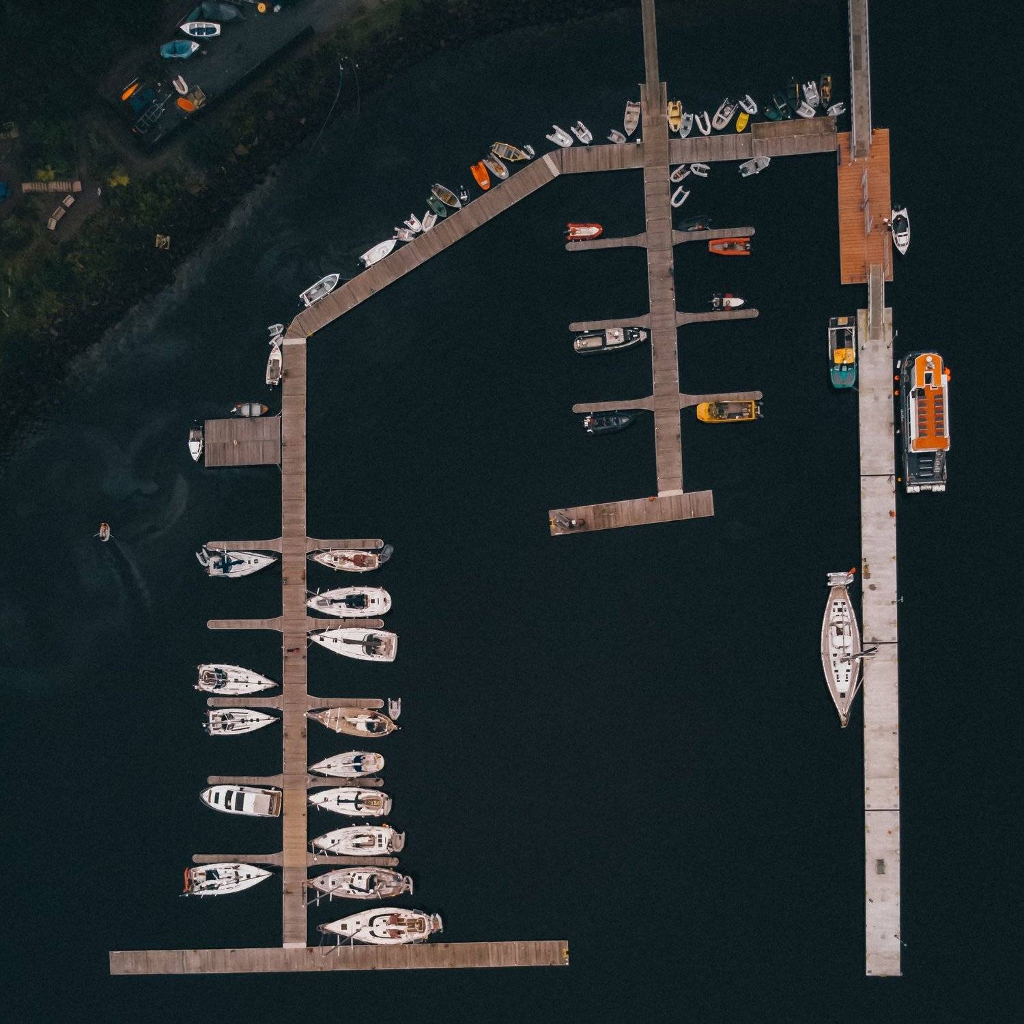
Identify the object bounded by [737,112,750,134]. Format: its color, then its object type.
yellow boat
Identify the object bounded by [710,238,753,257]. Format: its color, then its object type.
red boat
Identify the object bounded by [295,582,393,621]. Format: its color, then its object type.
white boat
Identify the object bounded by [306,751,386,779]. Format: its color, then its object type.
white boat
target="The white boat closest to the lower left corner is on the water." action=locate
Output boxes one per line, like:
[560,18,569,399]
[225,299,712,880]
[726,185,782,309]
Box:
[189,861,284,898]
